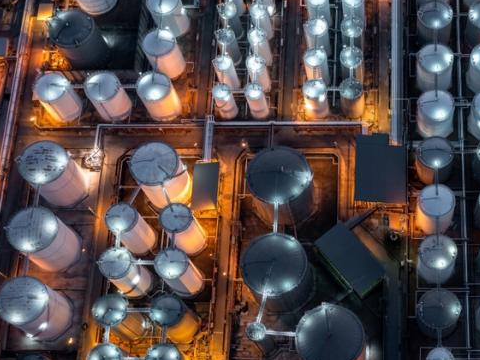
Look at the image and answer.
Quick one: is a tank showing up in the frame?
Yes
